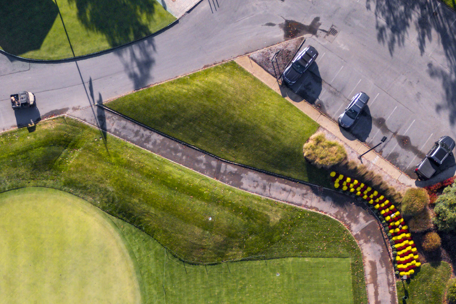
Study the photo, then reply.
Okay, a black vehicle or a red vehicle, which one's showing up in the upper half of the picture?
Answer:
black vehicle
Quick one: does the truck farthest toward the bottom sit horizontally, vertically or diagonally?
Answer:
diagonally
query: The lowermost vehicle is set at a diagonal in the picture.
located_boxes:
[411,137,455,184]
